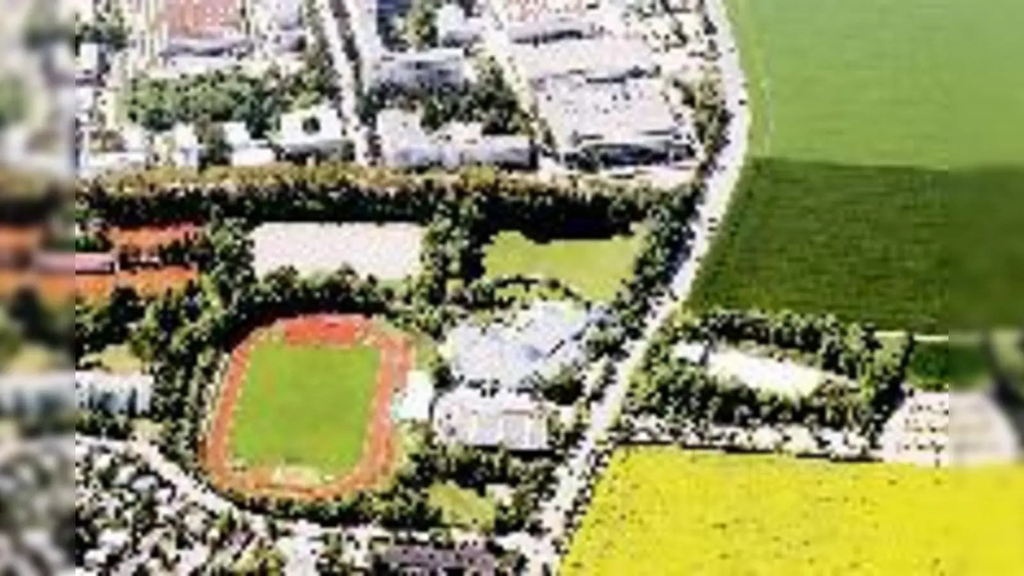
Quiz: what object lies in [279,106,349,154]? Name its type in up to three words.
building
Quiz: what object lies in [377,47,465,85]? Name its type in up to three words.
building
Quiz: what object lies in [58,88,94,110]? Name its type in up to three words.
shed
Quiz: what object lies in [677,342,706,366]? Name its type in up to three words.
house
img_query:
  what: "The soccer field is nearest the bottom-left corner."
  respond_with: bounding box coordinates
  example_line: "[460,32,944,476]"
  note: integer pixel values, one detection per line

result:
[226,346,389,472]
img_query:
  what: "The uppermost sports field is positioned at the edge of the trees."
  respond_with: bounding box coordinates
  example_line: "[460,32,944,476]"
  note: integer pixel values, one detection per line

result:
[252,222,428,281]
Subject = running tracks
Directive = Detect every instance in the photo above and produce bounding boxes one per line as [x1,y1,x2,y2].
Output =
[200,319,412,508]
